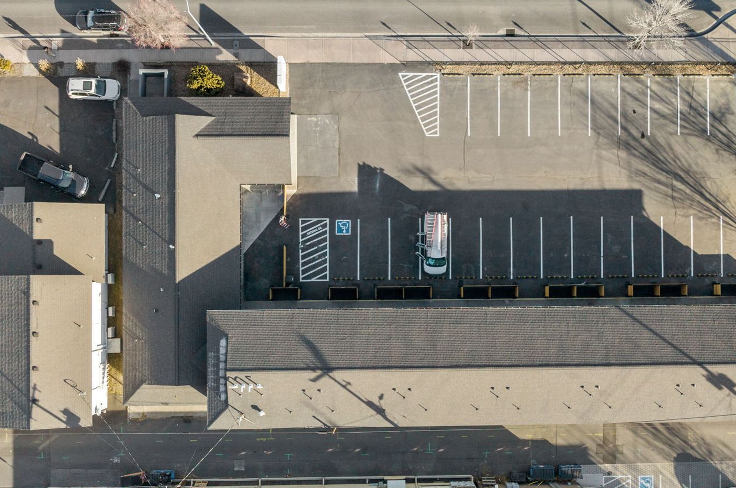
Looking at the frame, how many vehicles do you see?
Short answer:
4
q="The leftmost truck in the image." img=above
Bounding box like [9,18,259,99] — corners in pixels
[18,151,89,196]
